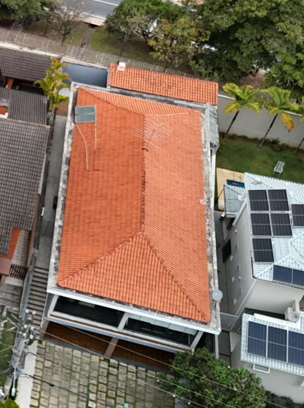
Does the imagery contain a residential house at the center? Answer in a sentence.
Yes, a residential house appears at the center.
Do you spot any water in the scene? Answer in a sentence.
No, the picture contains no water.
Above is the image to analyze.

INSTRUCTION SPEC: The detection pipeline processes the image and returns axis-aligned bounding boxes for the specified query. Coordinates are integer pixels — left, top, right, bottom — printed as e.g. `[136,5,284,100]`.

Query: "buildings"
[0,87,51,271]
[216,171,304,396]
[37,92,227,371]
